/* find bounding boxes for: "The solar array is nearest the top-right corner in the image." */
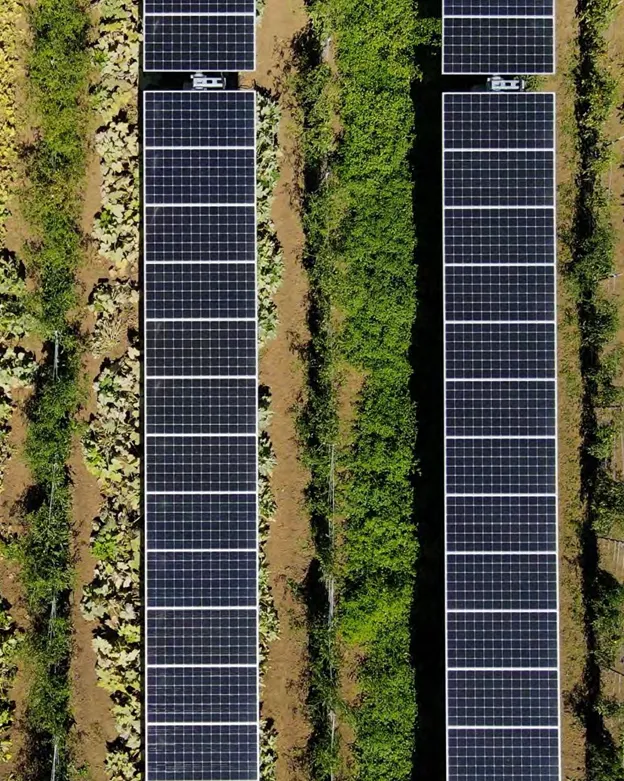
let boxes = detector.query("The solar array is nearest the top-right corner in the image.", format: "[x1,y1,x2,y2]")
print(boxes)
[441,0,555,82]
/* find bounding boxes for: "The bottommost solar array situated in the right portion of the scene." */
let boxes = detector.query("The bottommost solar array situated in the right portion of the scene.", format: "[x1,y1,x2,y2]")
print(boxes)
[442,91,561,781]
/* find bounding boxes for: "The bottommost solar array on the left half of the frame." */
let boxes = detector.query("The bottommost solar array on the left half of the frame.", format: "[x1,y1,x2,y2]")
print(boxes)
[143,91,259,781]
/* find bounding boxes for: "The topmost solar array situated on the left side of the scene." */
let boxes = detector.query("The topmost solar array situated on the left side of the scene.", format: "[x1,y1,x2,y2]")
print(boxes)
[143,0,256,79]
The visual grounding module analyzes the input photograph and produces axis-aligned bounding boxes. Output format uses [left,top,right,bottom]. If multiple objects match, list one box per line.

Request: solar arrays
[442,91,561,781]
[143,0,256,79]
[143,91,259,781]
[441,0,555,82]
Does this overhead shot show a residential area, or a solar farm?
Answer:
solar farm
